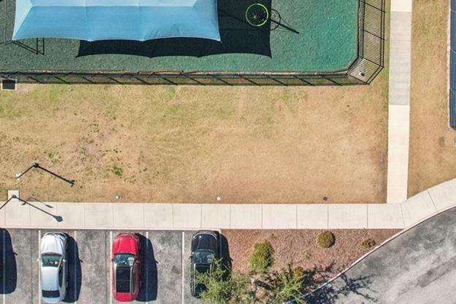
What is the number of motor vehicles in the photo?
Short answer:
three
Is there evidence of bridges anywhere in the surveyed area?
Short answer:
No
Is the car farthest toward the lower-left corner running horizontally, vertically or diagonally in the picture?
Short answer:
vertically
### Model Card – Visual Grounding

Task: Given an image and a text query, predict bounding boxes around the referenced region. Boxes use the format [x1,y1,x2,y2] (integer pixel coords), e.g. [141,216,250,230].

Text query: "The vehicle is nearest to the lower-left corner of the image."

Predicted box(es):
[34,230,67,299]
